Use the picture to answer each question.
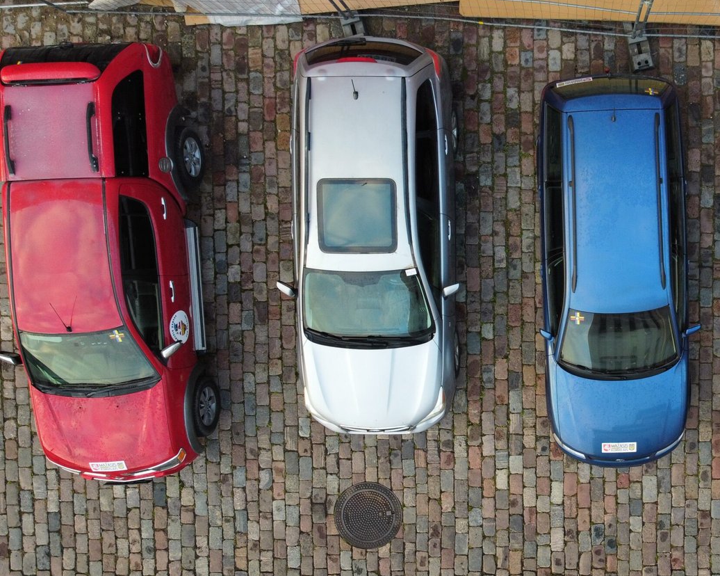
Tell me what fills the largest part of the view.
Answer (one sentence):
The scene is dominated by paved ground.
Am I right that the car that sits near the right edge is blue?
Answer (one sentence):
Yes, the car that sits near the right edge appears blue.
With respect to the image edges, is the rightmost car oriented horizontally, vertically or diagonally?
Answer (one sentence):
In this picture, the rightmost car is oriented vertically.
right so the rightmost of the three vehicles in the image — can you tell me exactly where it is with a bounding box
[534,66,703,468]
